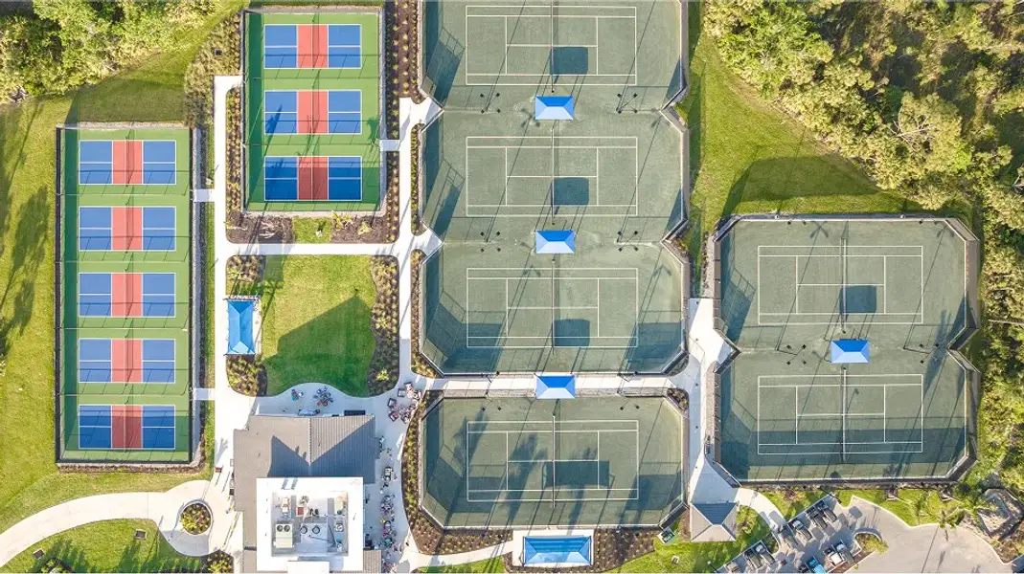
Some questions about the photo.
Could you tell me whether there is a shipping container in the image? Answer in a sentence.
No, I find no shipping container anywhere in the image.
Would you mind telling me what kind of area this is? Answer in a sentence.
What you see here is a sports ground.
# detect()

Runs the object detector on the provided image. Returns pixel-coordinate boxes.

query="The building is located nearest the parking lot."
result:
[686,499,737,543]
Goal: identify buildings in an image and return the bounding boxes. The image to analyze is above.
[234,414,382,574]
[686,499,737,543]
